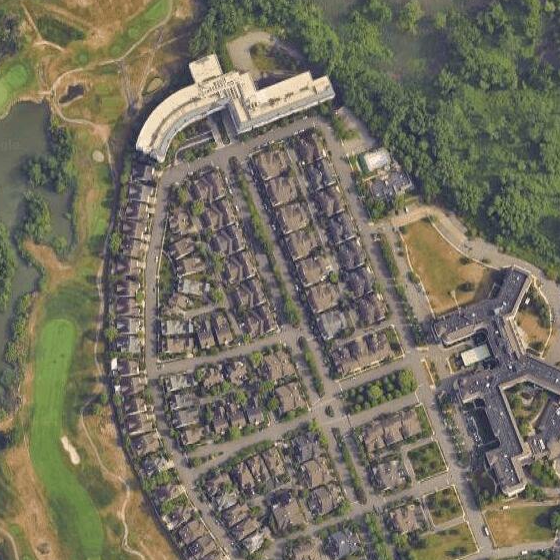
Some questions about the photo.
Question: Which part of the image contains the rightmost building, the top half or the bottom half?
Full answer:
The rightmost building sits in the bottom half of the picture.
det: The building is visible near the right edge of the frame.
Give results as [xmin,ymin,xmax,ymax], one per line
[433,267,560,493]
